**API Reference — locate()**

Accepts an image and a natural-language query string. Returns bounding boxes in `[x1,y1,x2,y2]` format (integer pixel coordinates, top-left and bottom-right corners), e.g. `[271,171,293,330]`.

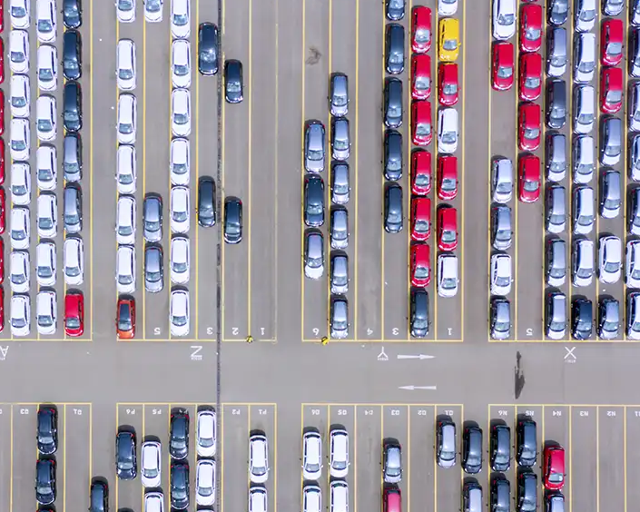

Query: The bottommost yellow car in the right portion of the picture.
[437,17,461,62]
